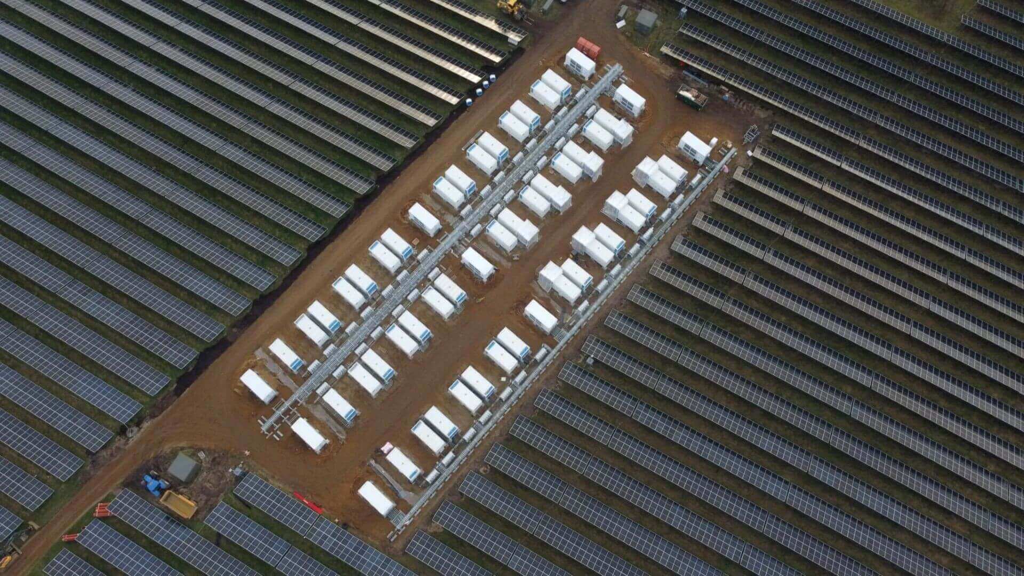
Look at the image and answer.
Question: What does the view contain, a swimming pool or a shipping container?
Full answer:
The image shows a shipping container.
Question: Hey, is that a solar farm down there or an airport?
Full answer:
This looks like a solar farm.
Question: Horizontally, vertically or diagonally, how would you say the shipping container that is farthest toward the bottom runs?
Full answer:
Seen from above, the shipping container that is farthest toward the bottom lies diagonally.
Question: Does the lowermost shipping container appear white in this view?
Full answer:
Yes, the lowermost shipping container appears white.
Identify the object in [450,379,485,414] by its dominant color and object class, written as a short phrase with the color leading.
white shipping container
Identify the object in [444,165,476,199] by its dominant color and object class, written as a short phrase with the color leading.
white shipping container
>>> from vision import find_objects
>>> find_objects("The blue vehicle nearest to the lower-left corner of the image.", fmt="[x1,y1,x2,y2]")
[141,471,170,498]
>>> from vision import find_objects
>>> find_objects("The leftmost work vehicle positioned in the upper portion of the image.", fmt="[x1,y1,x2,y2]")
[495,0,529,22]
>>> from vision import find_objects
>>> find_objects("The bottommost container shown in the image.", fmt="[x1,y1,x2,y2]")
[358,481,397,518]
